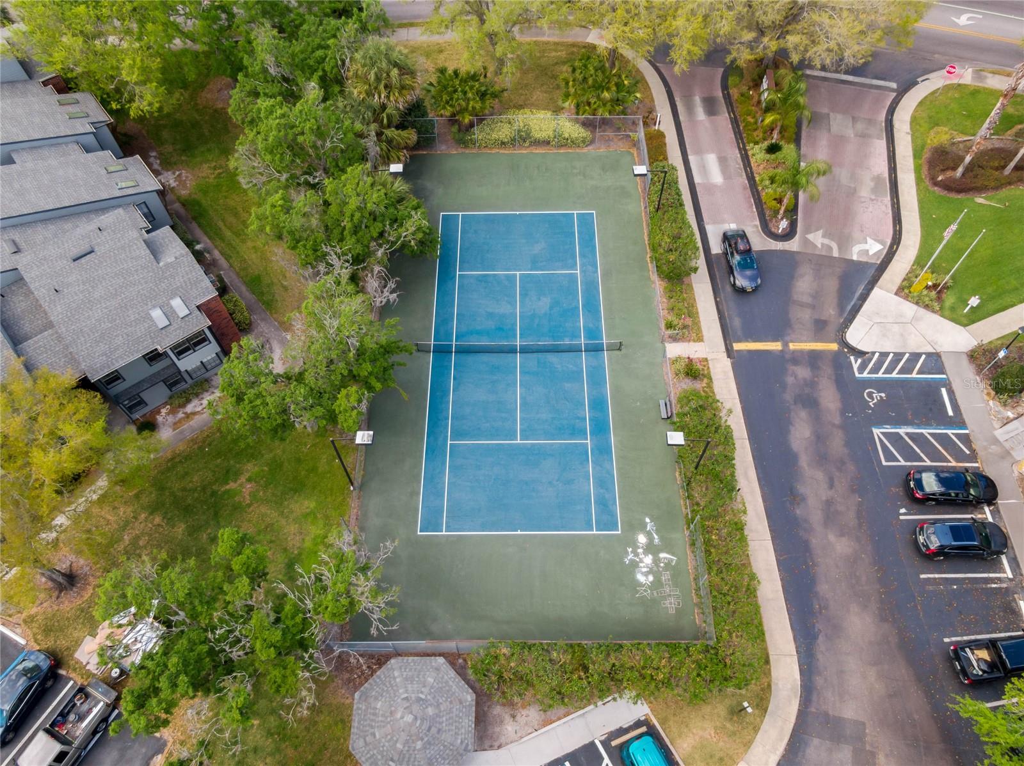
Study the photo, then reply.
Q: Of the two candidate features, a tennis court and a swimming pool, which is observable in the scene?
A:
tennis court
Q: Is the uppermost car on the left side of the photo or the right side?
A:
right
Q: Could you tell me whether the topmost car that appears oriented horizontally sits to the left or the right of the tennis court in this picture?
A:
right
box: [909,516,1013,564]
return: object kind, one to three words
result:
car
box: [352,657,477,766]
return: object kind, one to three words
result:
gazebo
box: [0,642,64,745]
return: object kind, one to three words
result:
car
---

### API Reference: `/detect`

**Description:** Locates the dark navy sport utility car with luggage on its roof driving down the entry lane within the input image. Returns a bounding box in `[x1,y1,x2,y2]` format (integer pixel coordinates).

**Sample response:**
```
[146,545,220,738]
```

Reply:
[722,231,763,294]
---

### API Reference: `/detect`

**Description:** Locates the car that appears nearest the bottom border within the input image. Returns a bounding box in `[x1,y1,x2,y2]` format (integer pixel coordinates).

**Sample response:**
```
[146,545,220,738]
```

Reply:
[626,731,676,766]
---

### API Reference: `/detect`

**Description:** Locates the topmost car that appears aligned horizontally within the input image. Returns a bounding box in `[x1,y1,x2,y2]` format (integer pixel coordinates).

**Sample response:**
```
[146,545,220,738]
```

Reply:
[902,465,1001,508]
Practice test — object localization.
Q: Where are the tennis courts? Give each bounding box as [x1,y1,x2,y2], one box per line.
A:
[347,150,702,643]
